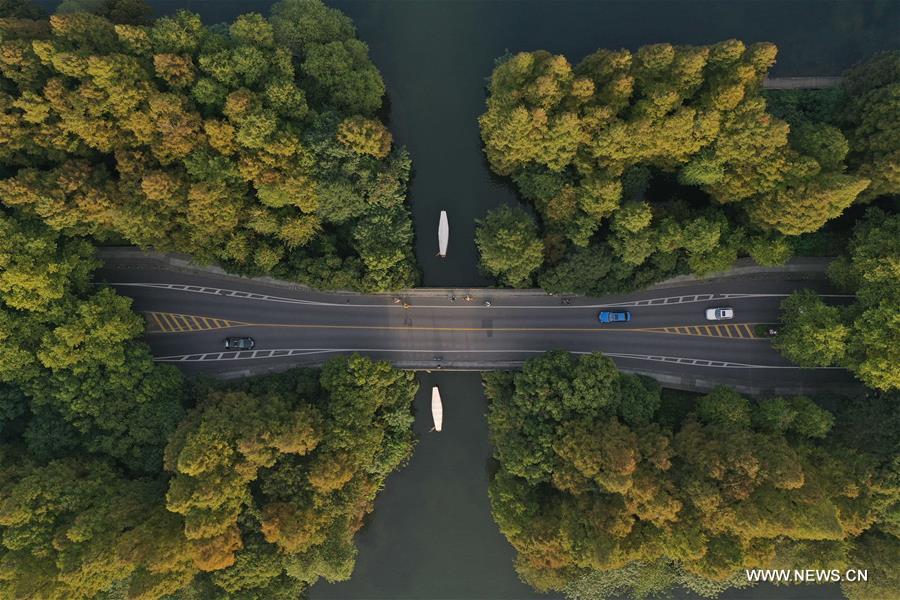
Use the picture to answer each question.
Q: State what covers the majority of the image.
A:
trees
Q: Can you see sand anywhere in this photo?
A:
No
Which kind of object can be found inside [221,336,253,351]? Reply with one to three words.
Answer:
car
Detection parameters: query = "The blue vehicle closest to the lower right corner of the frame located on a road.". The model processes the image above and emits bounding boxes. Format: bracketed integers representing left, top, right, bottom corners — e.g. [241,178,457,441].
[599,309,633,324]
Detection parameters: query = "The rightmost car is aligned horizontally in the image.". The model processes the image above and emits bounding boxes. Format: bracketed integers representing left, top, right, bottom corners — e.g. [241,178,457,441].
[706,307,737,322]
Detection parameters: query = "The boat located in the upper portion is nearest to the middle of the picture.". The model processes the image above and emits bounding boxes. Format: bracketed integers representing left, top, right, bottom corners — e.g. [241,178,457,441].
[433,207,448,258]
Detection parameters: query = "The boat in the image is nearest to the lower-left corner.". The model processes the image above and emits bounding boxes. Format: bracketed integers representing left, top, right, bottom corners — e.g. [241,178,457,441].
[428,385,442,436]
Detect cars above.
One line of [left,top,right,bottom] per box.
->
[221,336,253,351]
[599,309,633,324]
[706,307,737,322]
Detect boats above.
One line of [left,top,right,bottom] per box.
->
[428,385,442,436]
[433,207,448,258]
